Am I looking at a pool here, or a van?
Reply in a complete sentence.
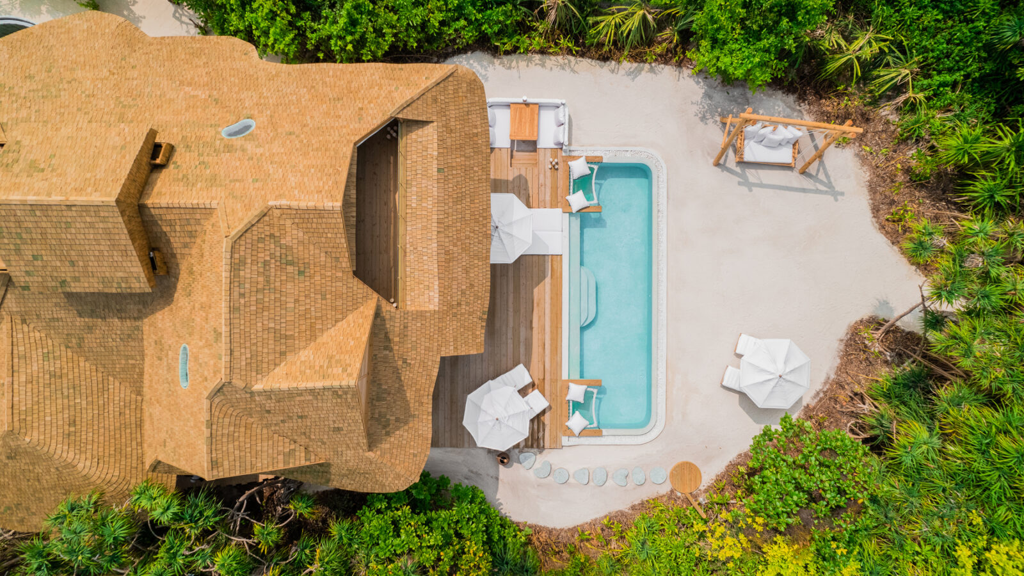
The one in the frame is a pool.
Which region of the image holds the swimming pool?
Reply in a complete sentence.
You can find the swimming pool in the center area of the picture.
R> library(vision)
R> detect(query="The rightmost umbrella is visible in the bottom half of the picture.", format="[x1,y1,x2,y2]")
[741,341,808,407]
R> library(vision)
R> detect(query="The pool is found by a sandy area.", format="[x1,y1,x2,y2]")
[561,148,667,445]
